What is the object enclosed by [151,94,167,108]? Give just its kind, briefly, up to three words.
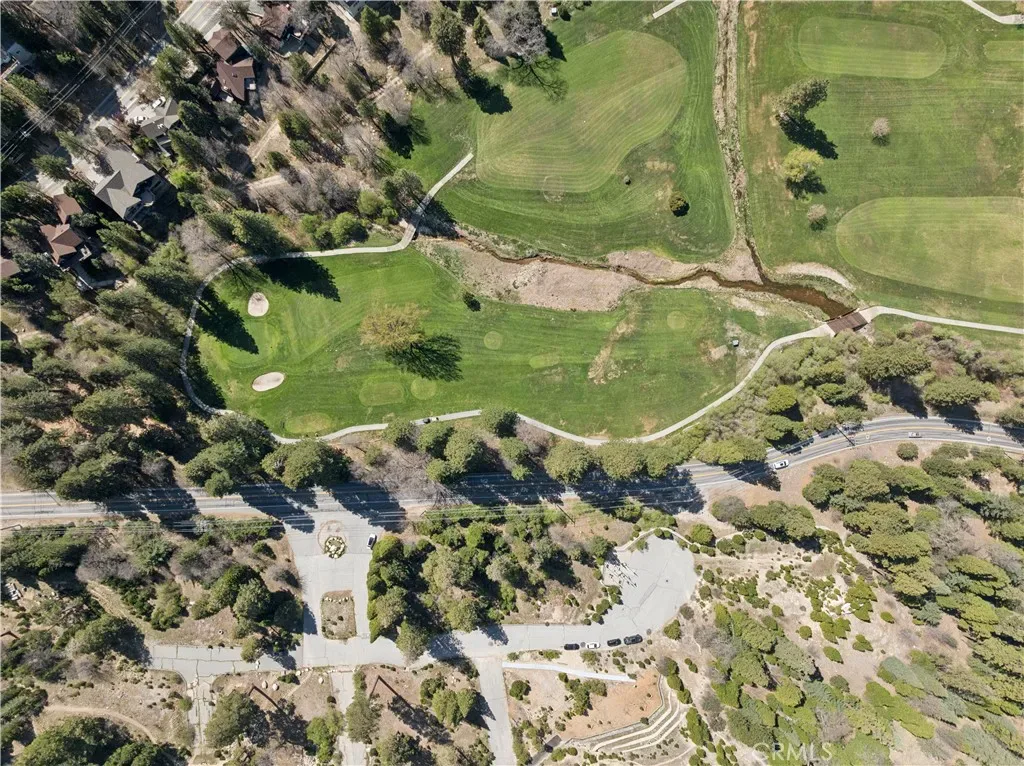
car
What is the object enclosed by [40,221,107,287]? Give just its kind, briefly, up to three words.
house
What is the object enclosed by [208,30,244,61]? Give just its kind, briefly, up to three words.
house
